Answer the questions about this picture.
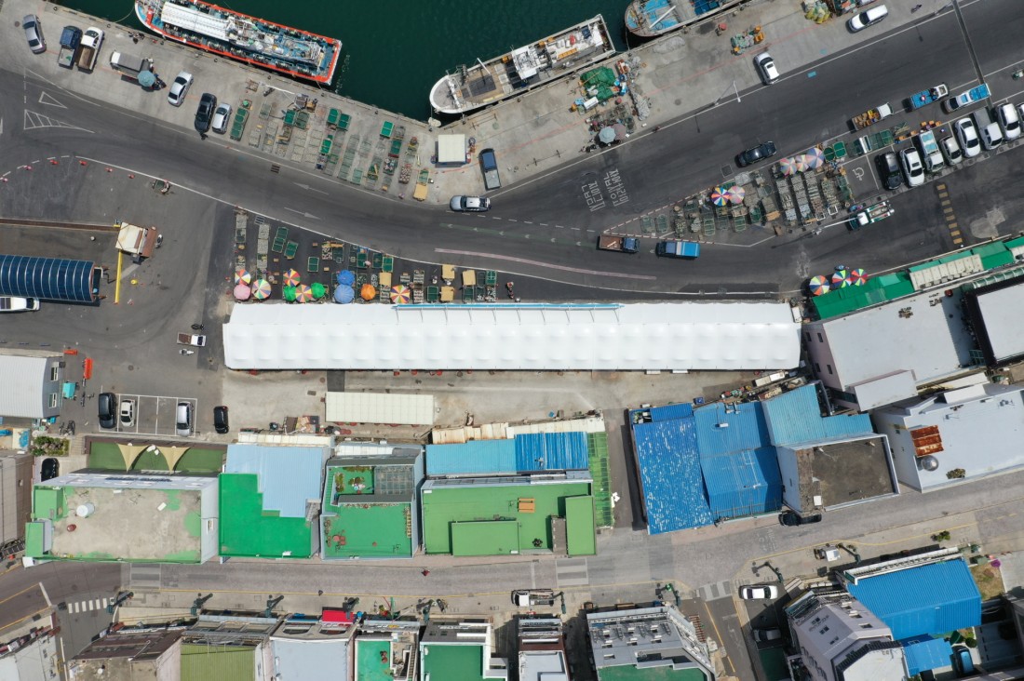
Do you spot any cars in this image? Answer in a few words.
Yes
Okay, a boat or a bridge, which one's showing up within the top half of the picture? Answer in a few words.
boat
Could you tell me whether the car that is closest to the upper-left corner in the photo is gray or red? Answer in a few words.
gray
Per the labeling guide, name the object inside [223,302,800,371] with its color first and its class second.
white tent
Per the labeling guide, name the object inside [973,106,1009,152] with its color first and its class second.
gray truck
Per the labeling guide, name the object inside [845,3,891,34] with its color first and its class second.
white car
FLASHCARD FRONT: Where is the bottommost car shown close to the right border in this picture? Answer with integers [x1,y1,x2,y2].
[950,643,977,676]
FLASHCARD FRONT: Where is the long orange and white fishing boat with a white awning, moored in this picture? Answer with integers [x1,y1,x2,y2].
[135,0,342,89]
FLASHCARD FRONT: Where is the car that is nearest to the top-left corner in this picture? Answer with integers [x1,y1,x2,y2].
[23,14,49,55]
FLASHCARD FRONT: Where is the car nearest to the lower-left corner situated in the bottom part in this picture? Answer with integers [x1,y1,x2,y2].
[40,456,61,483]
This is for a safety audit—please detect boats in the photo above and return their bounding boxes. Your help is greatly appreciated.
[135,0,342,89]
[430,14,615,118]
[624,0,747,43]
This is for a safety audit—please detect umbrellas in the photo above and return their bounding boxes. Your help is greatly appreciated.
[391,285,410,302]
[712,188,730,207]
[234,284,251,301]
[338,269,355,286]
[728,186,744,203]
[598,126,616,144]
[283,287,297,301]
[284,269,301,286]
[612,124,627,141]
[984,557,1000,568]
[252,279,271,298]
[138,69,157,87]
[795,156,810,172]
[831,269,851,288]
[806,149,824,168]
[312,283,326,297]
[296,286,312,302]
[779,158,796,175]
[809,275,829,295]
[335,285,355,302]
[361,285,376,300]
[236,270,251,285]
